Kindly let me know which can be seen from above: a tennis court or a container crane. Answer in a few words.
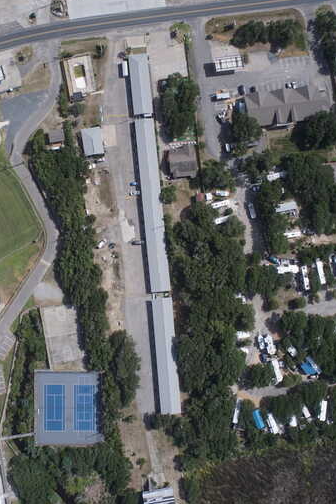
tennis court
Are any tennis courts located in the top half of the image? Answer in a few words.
No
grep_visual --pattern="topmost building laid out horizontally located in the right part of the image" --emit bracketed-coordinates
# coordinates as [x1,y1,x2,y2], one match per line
[245,82,336,129]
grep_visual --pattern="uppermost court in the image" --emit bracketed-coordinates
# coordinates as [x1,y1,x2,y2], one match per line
[41,306,84,363]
